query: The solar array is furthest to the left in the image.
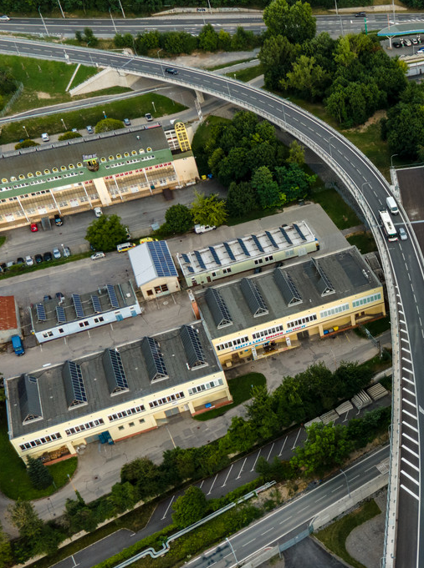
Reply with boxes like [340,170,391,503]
[71,361,87,402]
